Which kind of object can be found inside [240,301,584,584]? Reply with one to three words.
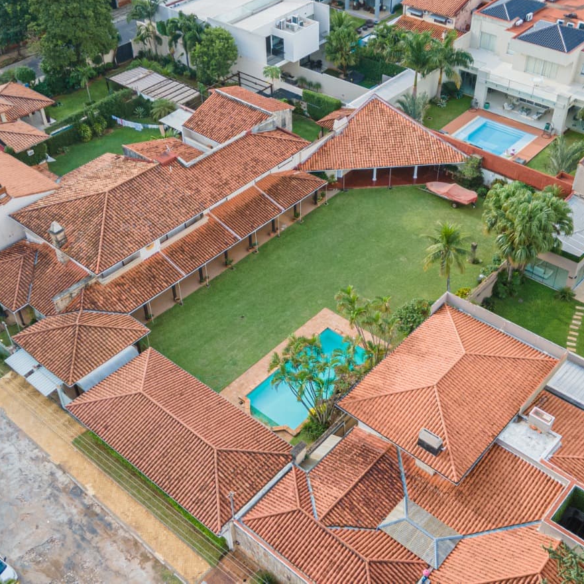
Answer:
house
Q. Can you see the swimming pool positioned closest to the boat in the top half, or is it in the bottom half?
top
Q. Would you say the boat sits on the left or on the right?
right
